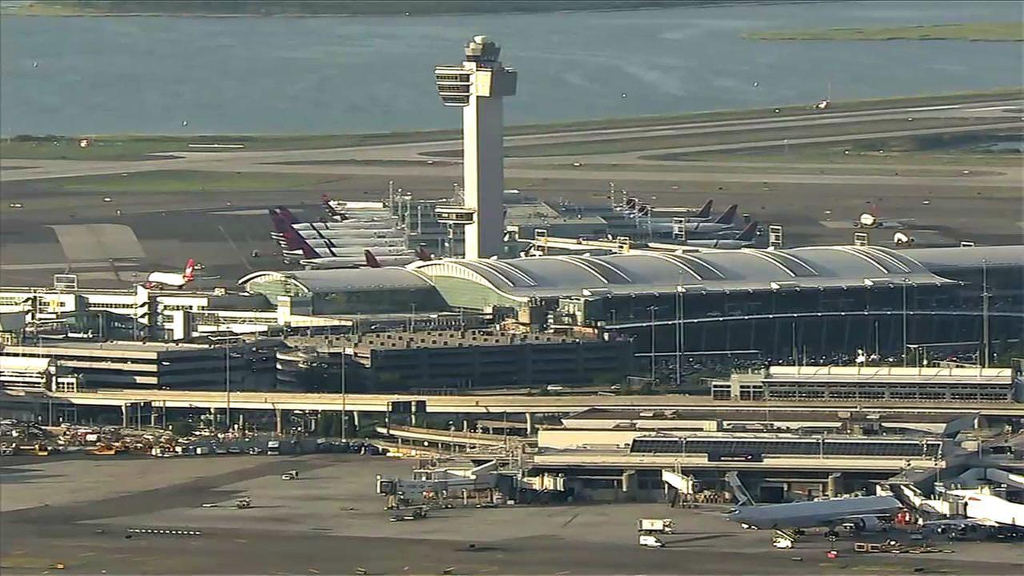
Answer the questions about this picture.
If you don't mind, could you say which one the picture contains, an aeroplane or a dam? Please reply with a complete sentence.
Looking from above, you can make out an aeroplane.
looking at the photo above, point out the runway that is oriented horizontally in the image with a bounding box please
[141,99,1024,155]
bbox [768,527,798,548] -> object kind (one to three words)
work vehicle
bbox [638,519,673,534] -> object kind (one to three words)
vehicle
